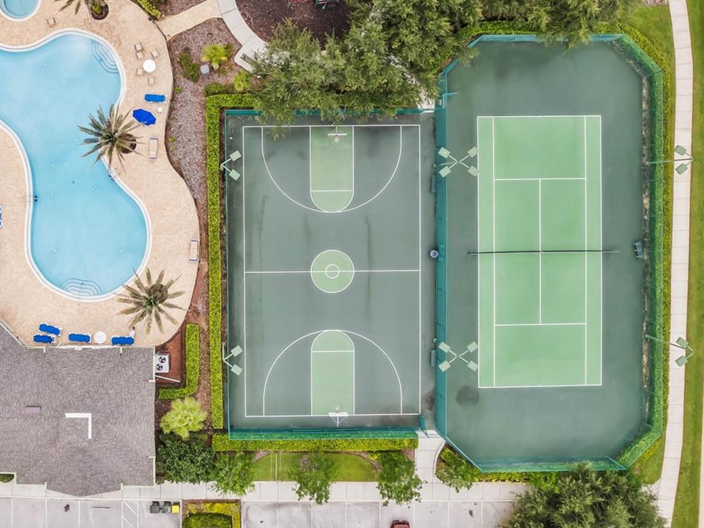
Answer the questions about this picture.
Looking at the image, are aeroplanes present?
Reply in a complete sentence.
No, there's no aeroplane here.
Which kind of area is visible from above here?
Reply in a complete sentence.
It's a sports ground.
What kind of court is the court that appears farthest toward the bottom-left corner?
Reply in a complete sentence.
What you see as the court that appears farthest toward the bottom-left corner is a basketball court.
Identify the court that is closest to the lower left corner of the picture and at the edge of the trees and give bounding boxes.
[224,113,434,430]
